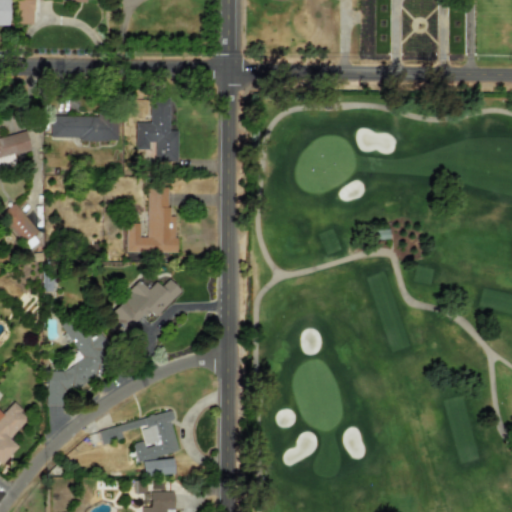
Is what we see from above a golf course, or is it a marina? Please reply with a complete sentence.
It's a golf course.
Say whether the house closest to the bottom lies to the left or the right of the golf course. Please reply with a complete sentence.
The house closest to the bottom is to the left of the golf course.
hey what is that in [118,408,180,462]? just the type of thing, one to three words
house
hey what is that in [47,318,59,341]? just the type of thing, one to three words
swimming pool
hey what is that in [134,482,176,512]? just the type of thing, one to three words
house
